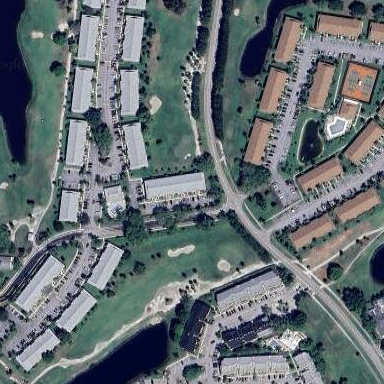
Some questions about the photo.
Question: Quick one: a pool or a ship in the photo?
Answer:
pool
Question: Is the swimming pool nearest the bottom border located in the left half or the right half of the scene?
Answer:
right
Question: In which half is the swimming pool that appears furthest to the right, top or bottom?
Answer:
top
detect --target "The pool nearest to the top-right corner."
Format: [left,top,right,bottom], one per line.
[323,114,353,141]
